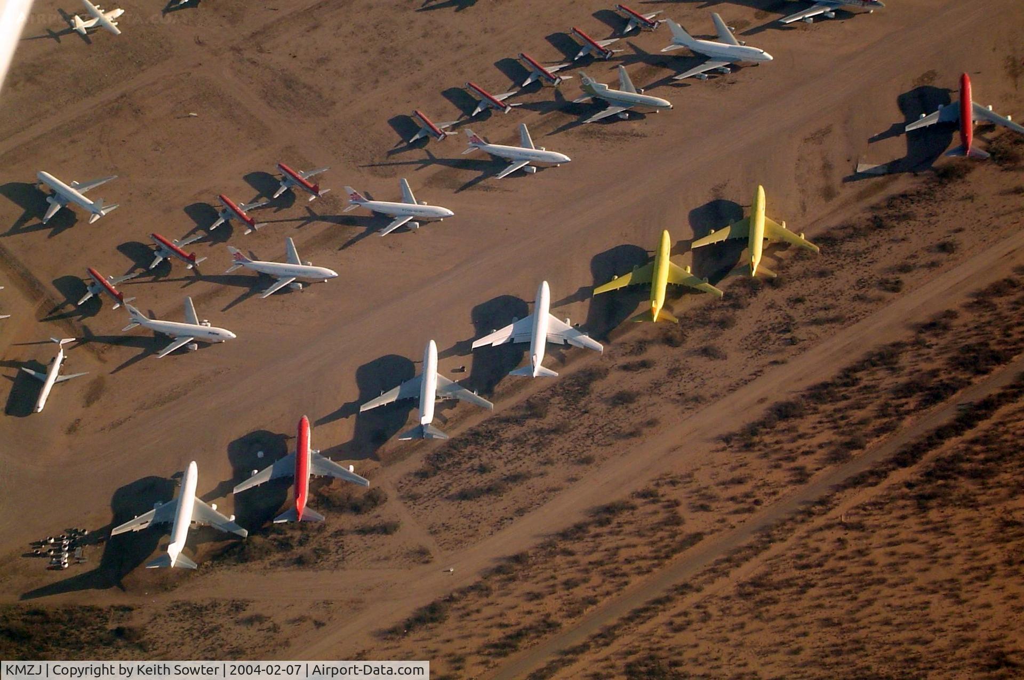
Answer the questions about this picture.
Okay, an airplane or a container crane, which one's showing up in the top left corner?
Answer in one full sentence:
It is an airplane that can be seen in the top left corner.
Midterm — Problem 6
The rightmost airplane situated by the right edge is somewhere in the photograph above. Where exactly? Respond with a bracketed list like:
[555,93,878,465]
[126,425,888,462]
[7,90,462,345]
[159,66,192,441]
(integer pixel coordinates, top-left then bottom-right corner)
[906,75,1024,156]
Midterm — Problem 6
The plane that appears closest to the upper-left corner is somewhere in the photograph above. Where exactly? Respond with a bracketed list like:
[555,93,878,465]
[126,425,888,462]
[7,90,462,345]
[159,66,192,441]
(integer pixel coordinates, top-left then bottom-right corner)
[72,0,126,35]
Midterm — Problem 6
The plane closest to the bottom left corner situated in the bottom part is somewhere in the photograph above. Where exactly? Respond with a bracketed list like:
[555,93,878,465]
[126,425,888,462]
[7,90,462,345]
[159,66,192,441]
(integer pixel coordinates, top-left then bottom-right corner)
[110,461,248,570]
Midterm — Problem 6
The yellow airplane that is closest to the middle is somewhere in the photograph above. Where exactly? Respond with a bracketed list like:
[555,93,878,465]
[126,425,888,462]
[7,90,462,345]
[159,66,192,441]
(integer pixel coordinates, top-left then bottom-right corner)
[595,231,723,324]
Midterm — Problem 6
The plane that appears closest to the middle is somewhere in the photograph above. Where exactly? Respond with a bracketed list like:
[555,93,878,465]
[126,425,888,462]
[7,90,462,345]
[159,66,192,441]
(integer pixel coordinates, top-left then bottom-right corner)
[473,282,603,378]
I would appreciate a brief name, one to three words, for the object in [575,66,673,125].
airplane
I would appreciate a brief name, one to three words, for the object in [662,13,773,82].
airplane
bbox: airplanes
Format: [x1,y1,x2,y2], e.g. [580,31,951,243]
[37,172,118,223]
[149,234,206,270]
[571,30,622,61]
[273,164,329,202]
[122,295,236,359]
[233,417,369,524]
[575,66,673,125]
[21,339,89,414]
[473,282,603,378]
[692,188,819,277]
[110,461,248,570]
[463,124,571,180]
[520,56,571,88]
[72,0,126,35]
[595,231,723,324]
[345,178,456,237]
[77,268,138,310]
[775,0,885,24]
[466,84,521,117]
[614,4,668,35]
[226,237,339,299]
[906,75,1024,156]
[209,195,268,235]
[360,340,493,440]
[662,13,773,82]
[408,109,459,144]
